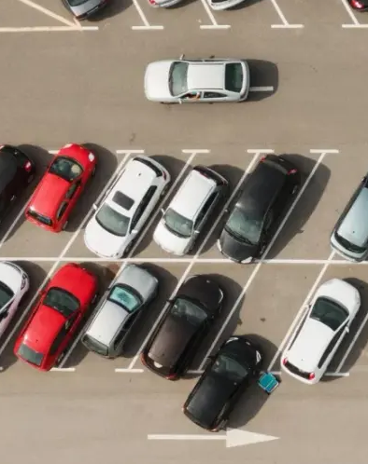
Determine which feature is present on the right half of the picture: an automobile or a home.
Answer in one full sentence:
The one visible on the right half of the picture is an automobile.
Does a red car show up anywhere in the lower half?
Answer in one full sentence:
Yes, a red car can be seen in the lower half.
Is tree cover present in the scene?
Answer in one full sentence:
No, the picture contains no tree cover.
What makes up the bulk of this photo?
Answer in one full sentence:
The scene is dominated by paved ground.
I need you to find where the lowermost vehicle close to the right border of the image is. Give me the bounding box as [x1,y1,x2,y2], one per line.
[281,280,356,383]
